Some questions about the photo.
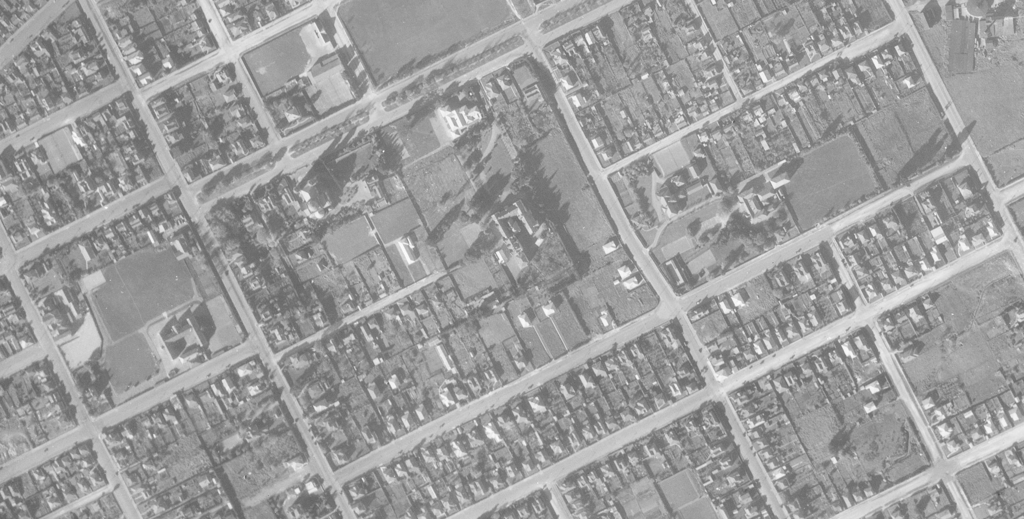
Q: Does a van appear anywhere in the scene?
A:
No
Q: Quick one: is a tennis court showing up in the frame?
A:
Yes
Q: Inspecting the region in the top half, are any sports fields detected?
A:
Yes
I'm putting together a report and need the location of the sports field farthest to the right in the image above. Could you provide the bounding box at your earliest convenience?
[788,134,881,231]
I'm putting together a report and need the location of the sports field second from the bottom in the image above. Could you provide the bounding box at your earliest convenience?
[92,245,202,341]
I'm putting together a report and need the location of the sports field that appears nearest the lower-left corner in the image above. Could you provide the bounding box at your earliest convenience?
[106,336,157,395]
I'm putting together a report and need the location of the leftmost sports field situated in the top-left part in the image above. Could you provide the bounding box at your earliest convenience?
[242,30,310,96]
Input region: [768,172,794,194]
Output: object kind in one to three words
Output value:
building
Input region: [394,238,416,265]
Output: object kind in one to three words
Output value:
building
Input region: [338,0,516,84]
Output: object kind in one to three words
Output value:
sports field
